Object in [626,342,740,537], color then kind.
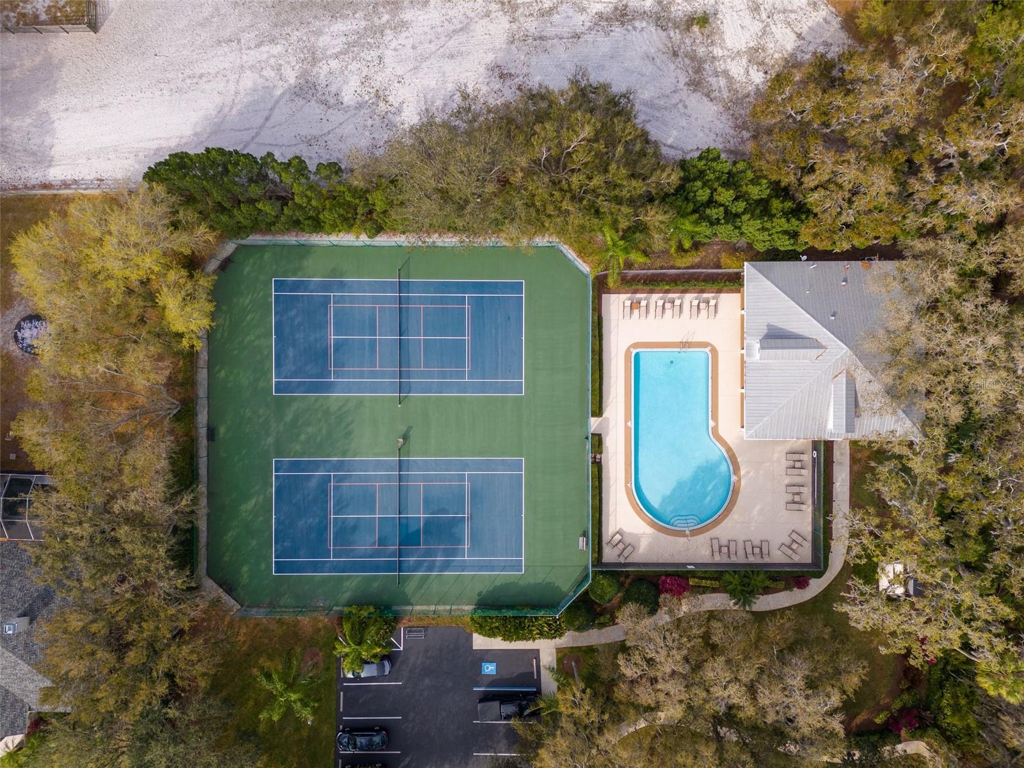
blue swimming pool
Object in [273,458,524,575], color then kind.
blue tennis court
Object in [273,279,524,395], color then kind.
blue tennis court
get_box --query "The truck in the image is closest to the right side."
[477,694,540,723]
